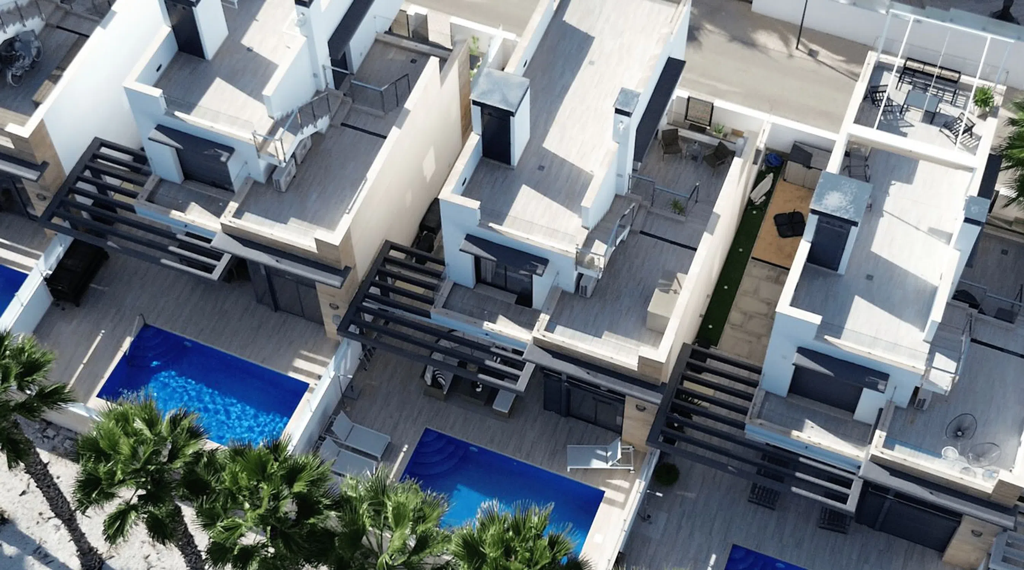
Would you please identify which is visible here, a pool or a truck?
pool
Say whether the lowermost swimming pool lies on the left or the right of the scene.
right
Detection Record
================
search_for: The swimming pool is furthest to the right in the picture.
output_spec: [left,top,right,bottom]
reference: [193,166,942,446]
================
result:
[723,542,821,570]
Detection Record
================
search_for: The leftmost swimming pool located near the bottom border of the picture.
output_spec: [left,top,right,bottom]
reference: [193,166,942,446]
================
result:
[387,426,607,570]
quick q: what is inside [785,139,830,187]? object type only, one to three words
building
